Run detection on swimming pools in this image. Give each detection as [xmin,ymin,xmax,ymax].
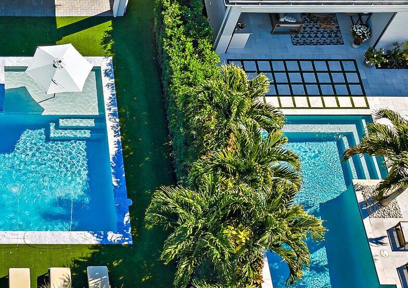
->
[259,108,406,288]
[0,56,131,244]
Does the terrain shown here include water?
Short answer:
Yes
